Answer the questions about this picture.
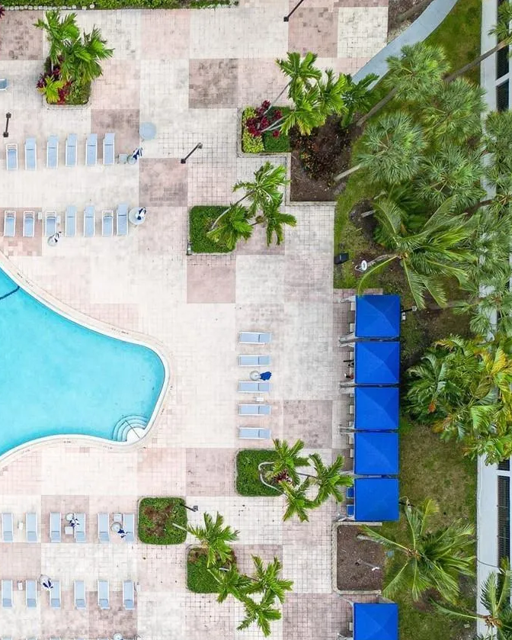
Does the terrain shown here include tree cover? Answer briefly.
Yes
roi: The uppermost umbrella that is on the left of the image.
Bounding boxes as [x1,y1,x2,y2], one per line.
[123,144,139,164]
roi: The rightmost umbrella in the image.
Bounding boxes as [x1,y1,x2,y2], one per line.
[250,366,273,385]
